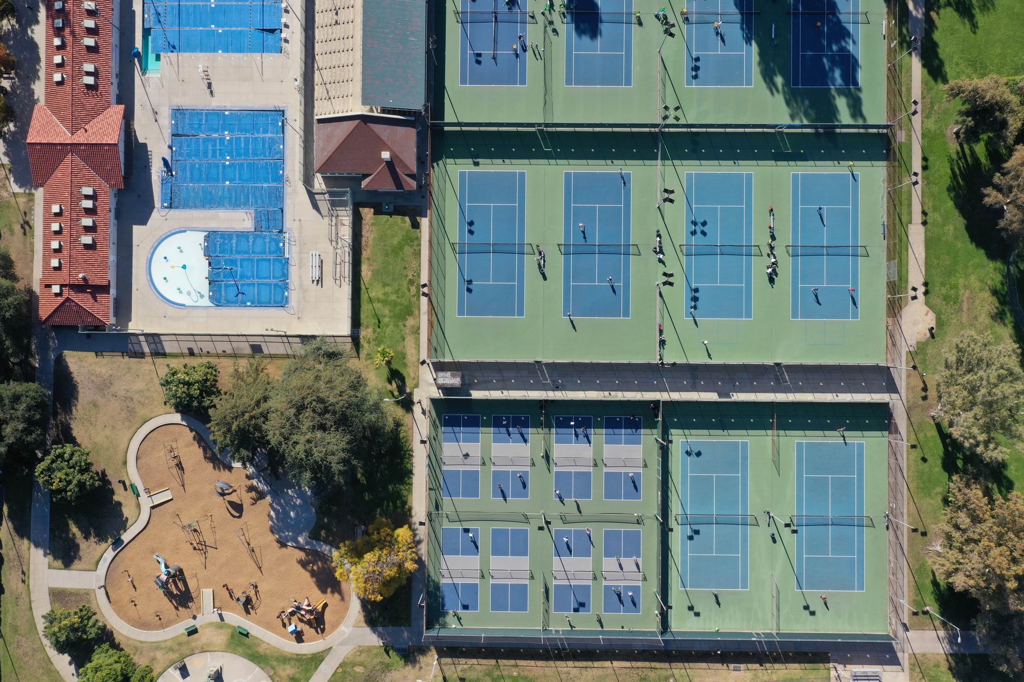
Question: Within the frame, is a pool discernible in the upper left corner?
Yes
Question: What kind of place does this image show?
sports ground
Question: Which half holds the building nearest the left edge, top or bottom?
top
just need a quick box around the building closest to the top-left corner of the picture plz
[26,0,130,326]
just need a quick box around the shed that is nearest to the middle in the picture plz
[436,371,462,387]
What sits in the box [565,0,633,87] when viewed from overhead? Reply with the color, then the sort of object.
blue tennis court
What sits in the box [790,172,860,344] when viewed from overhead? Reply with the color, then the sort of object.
blue tennis court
